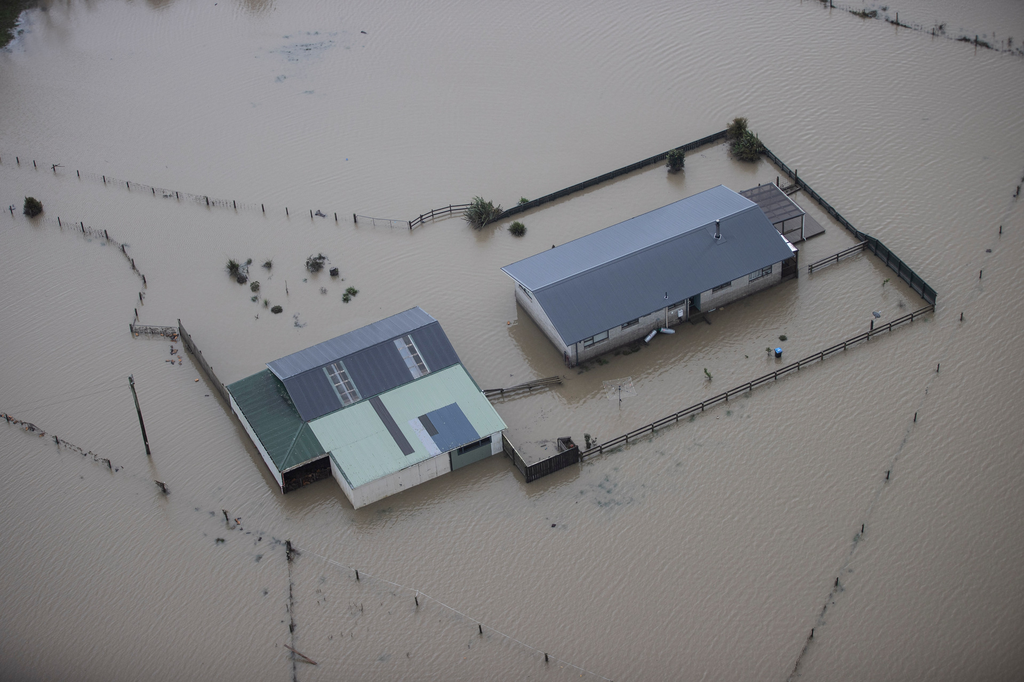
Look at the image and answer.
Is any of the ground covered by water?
Yes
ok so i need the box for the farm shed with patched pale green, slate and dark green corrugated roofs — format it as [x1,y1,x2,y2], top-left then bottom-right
[225,306,508,510]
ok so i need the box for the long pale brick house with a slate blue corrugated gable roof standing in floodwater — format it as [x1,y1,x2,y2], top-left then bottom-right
[500,184,802,366]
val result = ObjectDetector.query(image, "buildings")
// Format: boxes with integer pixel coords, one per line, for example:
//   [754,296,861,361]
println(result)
[500,184,802,366]
[225,306,508,510]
